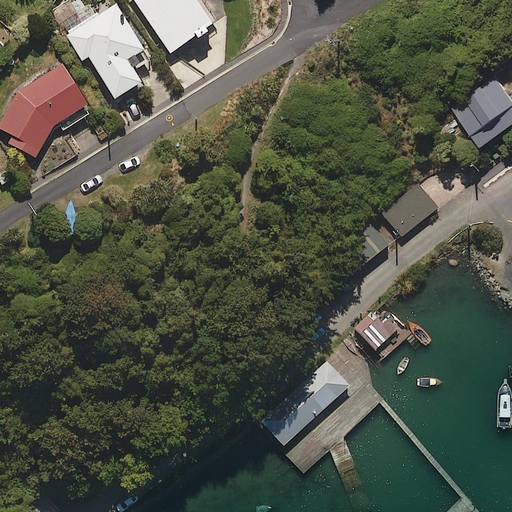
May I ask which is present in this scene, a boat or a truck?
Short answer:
boat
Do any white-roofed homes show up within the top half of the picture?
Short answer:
Yes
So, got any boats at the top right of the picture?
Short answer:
No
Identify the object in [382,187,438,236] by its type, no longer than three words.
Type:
building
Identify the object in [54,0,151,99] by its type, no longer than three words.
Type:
house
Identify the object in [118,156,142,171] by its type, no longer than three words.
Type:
car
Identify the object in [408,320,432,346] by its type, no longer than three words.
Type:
boat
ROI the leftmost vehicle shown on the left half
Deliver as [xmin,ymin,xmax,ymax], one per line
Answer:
[80,176,103,193]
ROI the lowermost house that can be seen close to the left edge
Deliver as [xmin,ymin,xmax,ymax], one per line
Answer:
[0,64,88,158]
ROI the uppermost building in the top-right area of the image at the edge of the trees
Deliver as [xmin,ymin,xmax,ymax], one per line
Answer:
[452,73,512,147]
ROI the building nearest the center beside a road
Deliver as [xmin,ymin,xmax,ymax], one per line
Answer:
[356,224,388,262]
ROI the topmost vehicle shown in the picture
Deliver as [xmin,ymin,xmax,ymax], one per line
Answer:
[126,97,141,122]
